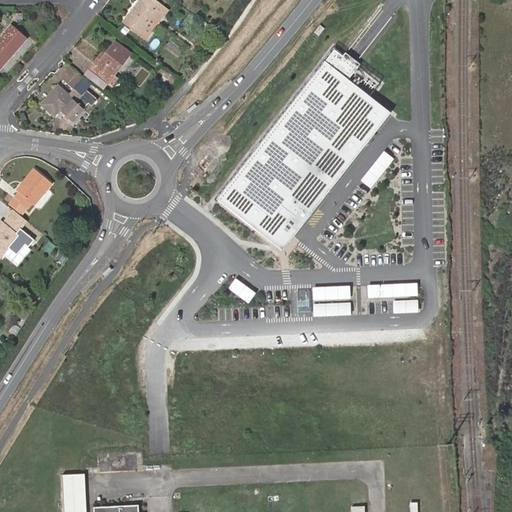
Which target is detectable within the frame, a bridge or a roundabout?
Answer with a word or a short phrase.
roundabout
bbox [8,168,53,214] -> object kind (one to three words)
house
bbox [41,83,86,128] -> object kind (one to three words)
house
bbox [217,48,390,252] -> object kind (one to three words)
building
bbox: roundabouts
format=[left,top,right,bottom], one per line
[95,138,178,220]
